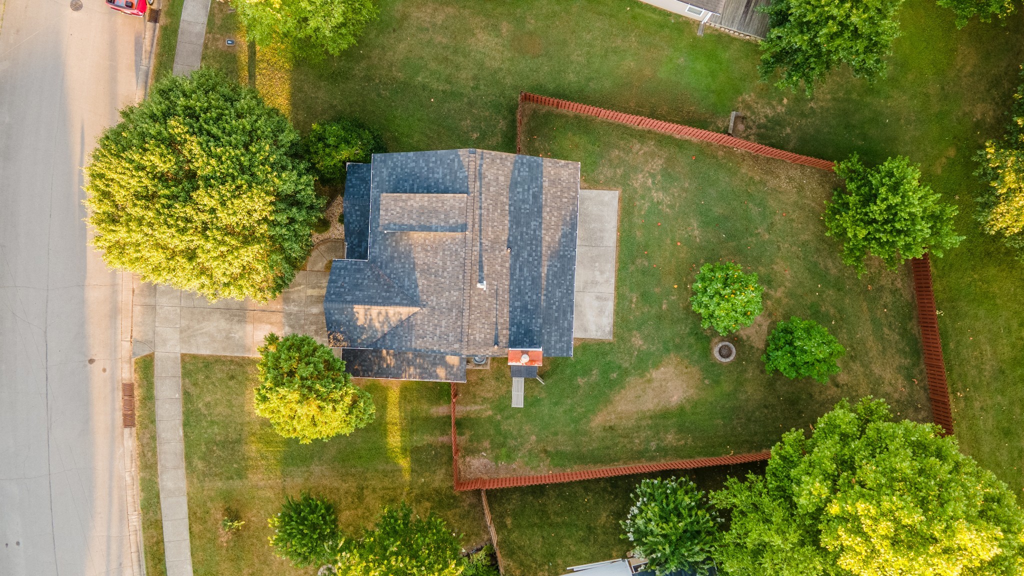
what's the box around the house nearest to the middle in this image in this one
[324,148,584,385]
